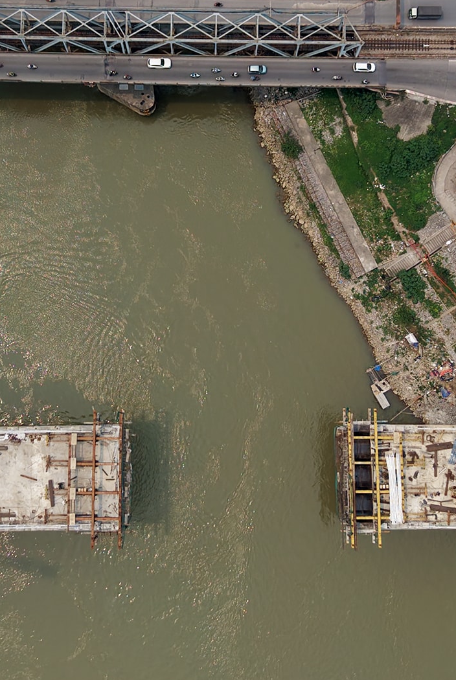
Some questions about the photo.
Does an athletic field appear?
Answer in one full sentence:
No, no athletic field can be seen from above.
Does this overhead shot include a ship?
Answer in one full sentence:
No, I can't see a single ship in this photo.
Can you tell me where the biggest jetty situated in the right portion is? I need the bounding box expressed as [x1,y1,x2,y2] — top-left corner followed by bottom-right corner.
[366,370,390,409]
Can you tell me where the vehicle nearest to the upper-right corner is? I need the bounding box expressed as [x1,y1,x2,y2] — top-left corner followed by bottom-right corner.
[409,4,444,20]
